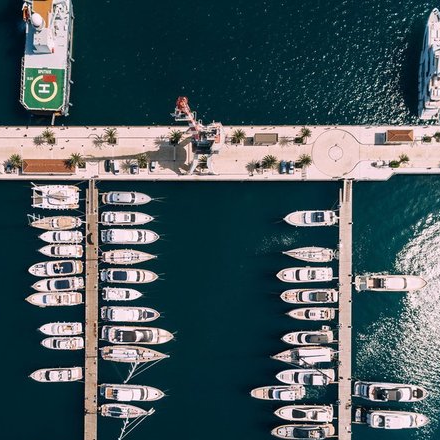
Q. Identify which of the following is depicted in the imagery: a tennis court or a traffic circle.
traffic circle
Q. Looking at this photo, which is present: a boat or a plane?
boat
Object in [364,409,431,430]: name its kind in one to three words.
boat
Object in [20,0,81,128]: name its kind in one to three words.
ship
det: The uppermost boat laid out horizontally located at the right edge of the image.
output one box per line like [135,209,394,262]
[347,274,429,292]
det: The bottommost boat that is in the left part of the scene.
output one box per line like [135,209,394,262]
[98,401,165,440]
